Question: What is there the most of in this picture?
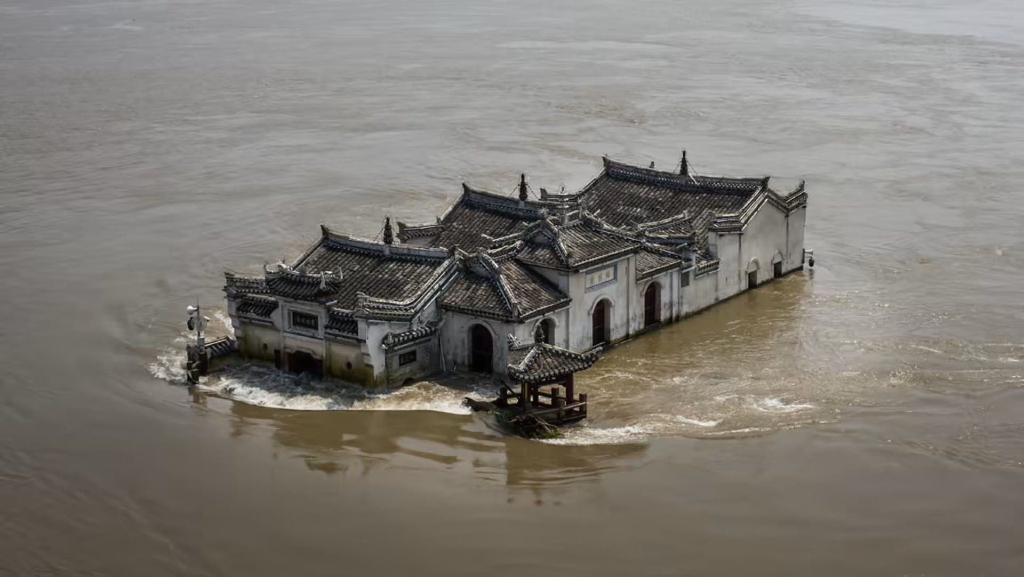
water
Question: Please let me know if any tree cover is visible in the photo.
No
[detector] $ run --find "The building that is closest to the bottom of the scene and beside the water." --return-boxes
[496,323,607,435]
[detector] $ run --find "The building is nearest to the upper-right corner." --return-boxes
[543,150,808,300]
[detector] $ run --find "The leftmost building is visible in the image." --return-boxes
[221,213,478,394]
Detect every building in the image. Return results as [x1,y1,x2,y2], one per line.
[496,323,607,435]
[543,150,808,300]
[221,213,478,394]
